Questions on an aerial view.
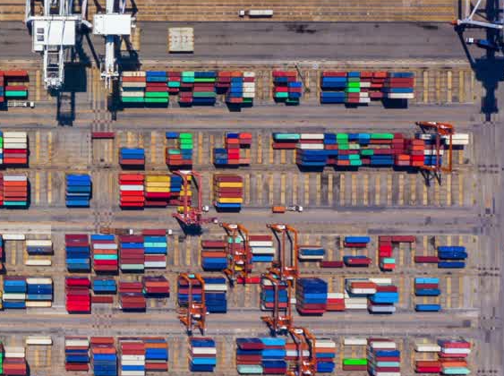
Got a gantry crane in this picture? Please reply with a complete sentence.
Yes, a gantry crane is visible in the scene.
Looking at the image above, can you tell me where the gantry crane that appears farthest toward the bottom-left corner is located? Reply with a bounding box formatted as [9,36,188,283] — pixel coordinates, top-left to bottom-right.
[174,267,206,326]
